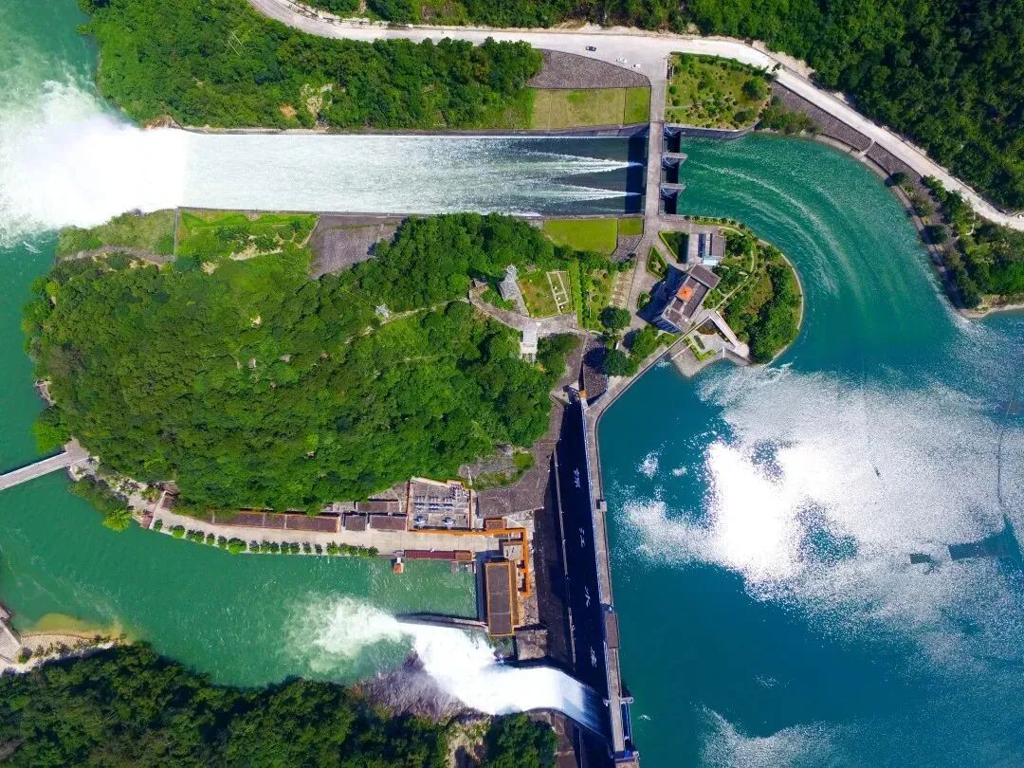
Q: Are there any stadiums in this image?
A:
No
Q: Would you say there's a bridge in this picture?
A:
Yes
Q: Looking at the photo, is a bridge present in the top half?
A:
Yes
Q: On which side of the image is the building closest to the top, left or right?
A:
right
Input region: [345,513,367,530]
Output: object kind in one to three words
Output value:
building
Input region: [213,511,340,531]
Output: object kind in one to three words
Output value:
building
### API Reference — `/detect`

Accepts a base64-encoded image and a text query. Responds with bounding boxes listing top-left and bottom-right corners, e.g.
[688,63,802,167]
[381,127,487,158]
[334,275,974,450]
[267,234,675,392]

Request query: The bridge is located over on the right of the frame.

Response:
[642,123,688,220]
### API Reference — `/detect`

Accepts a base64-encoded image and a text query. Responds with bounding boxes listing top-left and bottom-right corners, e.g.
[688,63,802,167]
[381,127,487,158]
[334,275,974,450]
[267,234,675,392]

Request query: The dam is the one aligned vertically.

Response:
[524,400,645,768]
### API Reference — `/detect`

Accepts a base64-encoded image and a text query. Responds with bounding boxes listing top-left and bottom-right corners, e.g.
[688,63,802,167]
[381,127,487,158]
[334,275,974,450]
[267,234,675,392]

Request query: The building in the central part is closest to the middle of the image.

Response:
[520,330,539,366]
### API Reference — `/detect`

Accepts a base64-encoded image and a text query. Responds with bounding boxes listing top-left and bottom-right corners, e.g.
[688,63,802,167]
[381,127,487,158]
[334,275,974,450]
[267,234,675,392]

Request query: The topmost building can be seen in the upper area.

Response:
[683,234,726,266]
